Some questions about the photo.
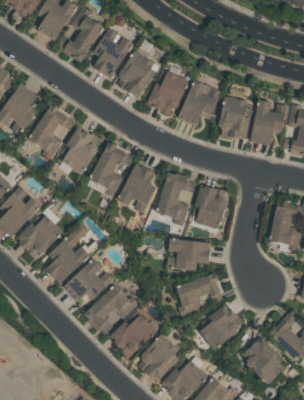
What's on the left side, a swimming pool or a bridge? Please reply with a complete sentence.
Visible on the left side is a swimming pool.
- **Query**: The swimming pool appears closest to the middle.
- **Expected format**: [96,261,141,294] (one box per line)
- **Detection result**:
[150,220,170,232]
